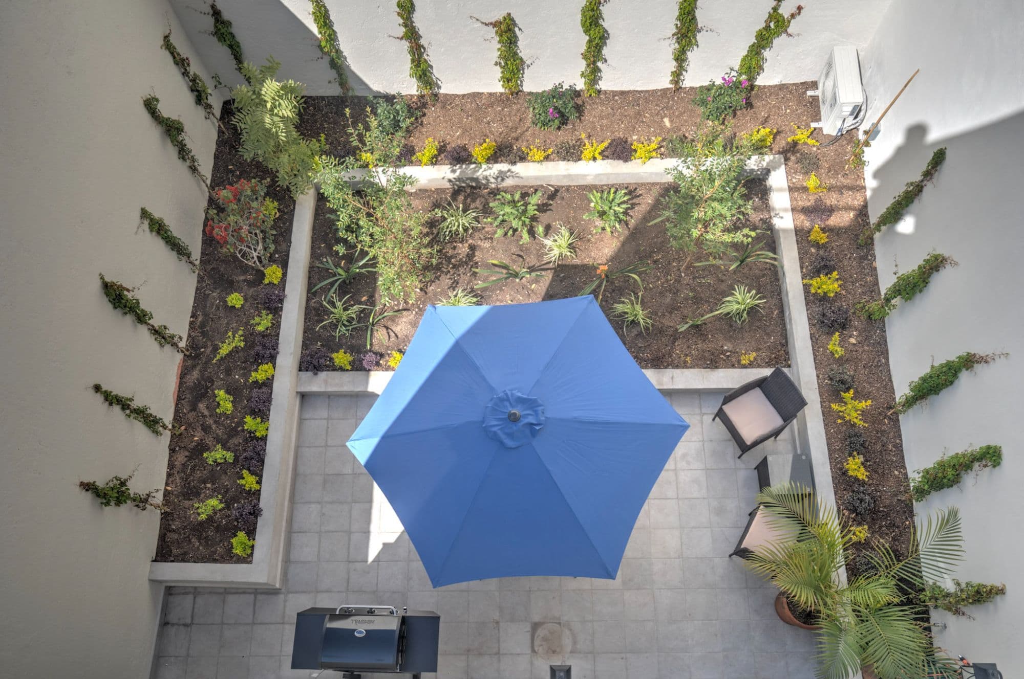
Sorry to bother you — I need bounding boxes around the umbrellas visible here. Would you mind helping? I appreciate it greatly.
[347,295,692,590]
